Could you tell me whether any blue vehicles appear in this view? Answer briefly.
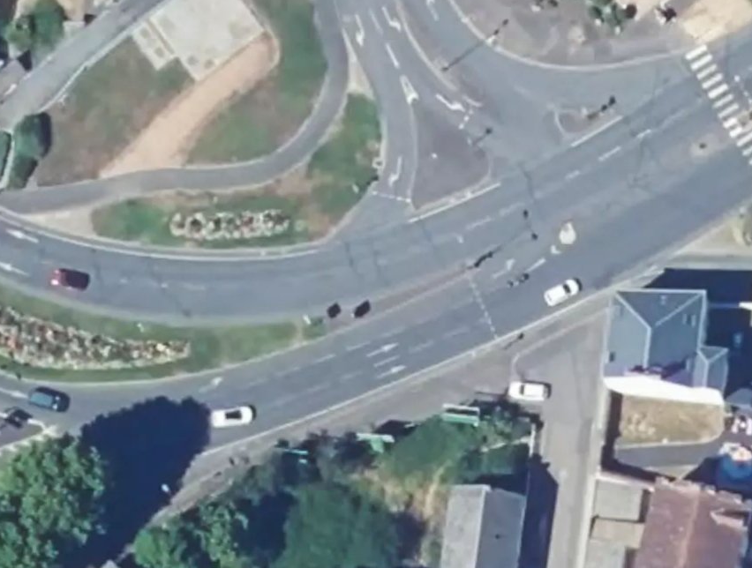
Yes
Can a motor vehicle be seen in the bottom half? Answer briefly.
Yes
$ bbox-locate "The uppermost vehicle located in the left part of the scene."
[52,268,89,289]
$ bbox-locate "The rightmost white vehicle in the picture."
[543,279,582,306]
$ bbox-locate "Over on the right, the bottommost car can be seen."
[509,380,548,401]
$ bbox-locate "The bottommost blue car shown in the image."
[29,388,69,410]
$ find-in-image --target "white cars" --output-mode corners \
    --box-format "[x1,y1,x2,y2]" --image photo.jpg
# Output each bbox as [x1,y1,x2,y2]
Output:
[212,405,254,427]
[509,380,548,401]
[543,279,582,306]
